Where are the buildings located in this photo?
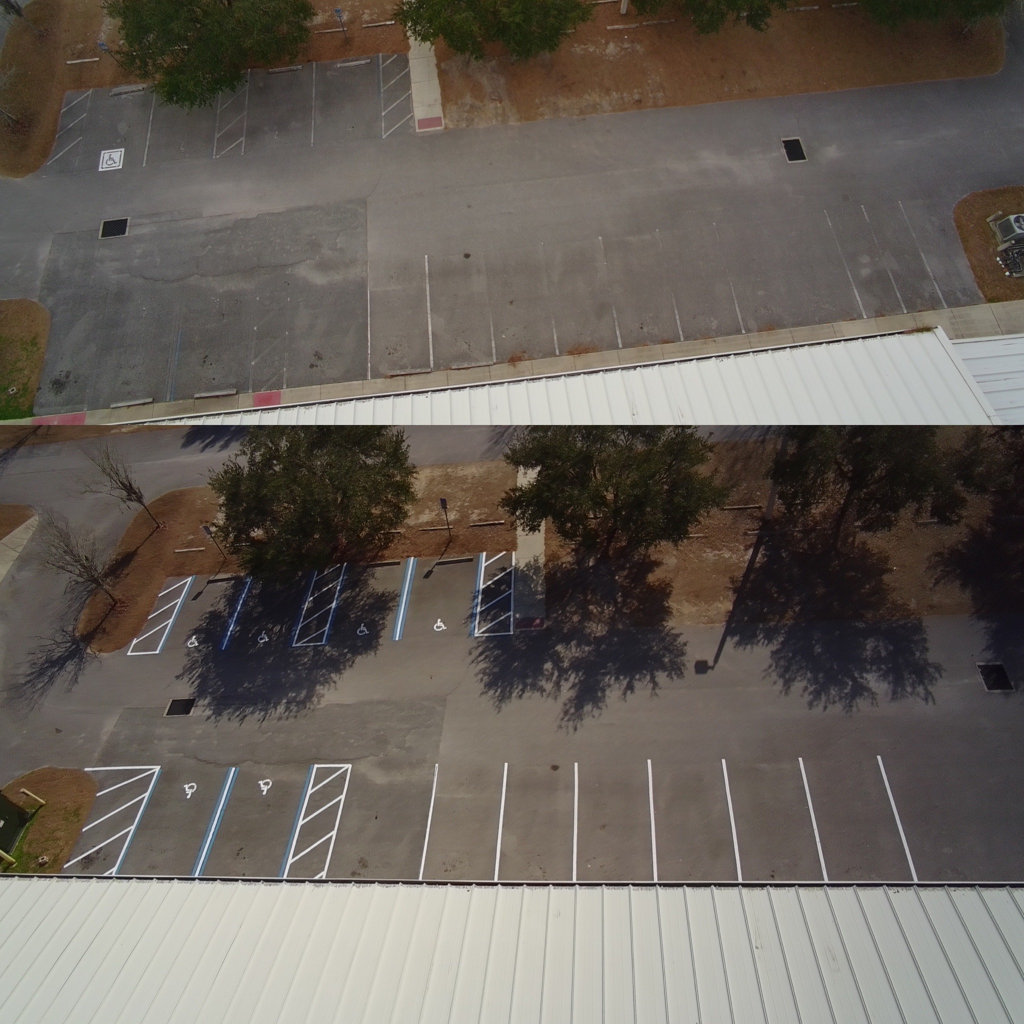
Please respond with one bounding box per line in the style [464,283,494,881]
[92,322,1002,425]
[0,873,1024,1024]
